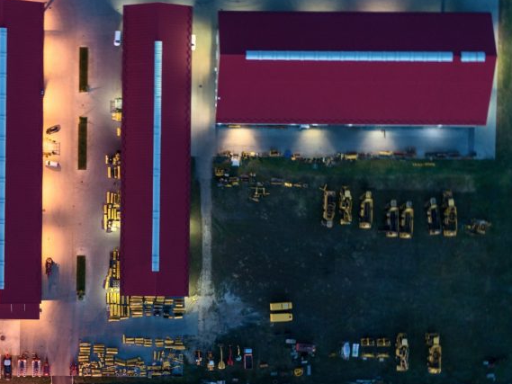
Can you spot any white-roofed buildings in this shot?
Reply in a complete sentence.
No, I can't see a single white-roofed building in this photo.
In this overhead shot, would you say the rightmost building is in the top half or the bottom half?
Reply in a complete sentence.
You can find the rightmost building in the top half.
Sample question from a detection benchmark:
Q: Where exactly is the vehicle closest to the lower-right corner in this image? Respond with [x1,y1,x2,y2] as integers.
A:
[429,333,443,373]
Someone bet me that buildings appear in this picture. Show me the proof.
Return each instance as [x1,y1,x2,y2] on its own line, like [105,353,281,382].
[0,0,44,320]
[215,11,500,128]
[120,1,192,296]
